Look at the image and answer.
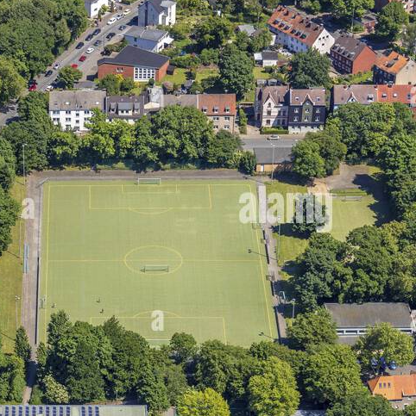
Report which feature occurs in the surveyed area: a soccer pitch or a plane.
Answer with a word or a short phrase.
soccer pitch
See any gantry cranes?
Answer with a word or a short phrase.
No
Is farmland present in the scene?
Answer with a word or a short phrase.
No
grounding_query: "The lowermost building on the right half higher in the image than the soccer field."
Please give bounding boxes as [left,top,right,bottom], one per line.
[252,145,293,171]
